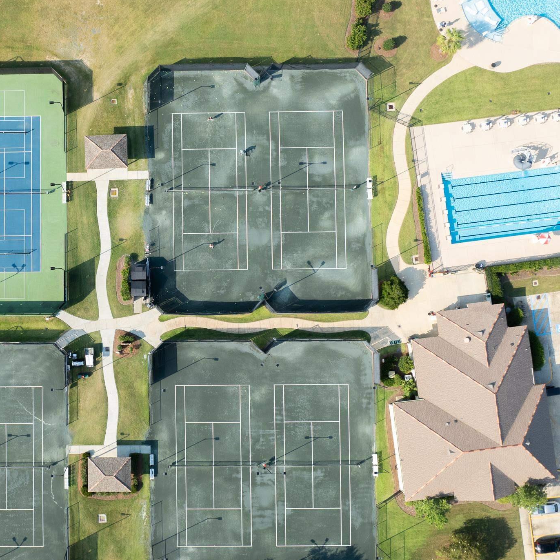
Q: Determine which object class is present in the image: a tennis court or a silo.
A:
tennis court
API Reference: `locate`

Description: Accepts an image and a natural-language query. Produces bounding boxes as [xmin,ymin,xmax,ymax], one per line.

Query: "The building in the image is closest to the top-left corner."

[84,134,129,172]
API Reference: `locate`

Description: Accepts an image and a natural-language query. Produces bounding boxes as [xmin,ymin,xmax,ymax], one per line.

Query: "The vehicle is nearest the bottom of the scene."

[535,538,560,555]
